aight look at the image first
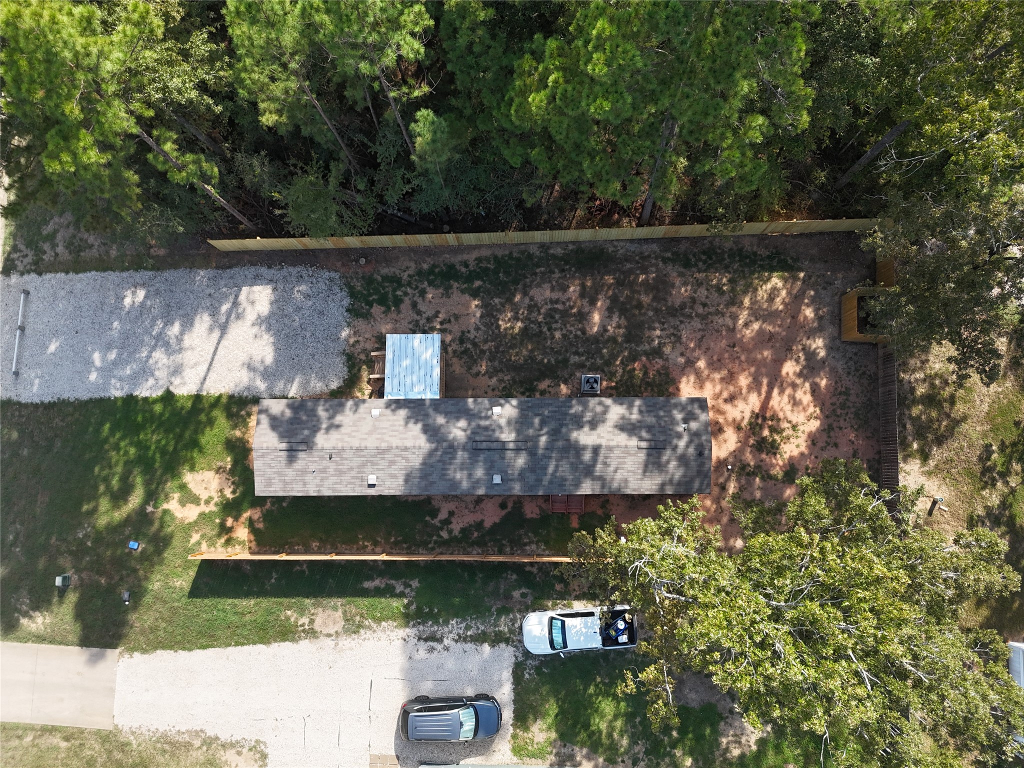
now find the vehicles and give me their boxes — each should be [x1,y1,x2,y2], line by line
[518,602,642,661]
[398,688,504,745]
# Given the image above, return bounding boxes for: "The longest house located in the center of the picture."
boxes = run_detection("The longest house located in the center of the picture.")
[255,398,710,495]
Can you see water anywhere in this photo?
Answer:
No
